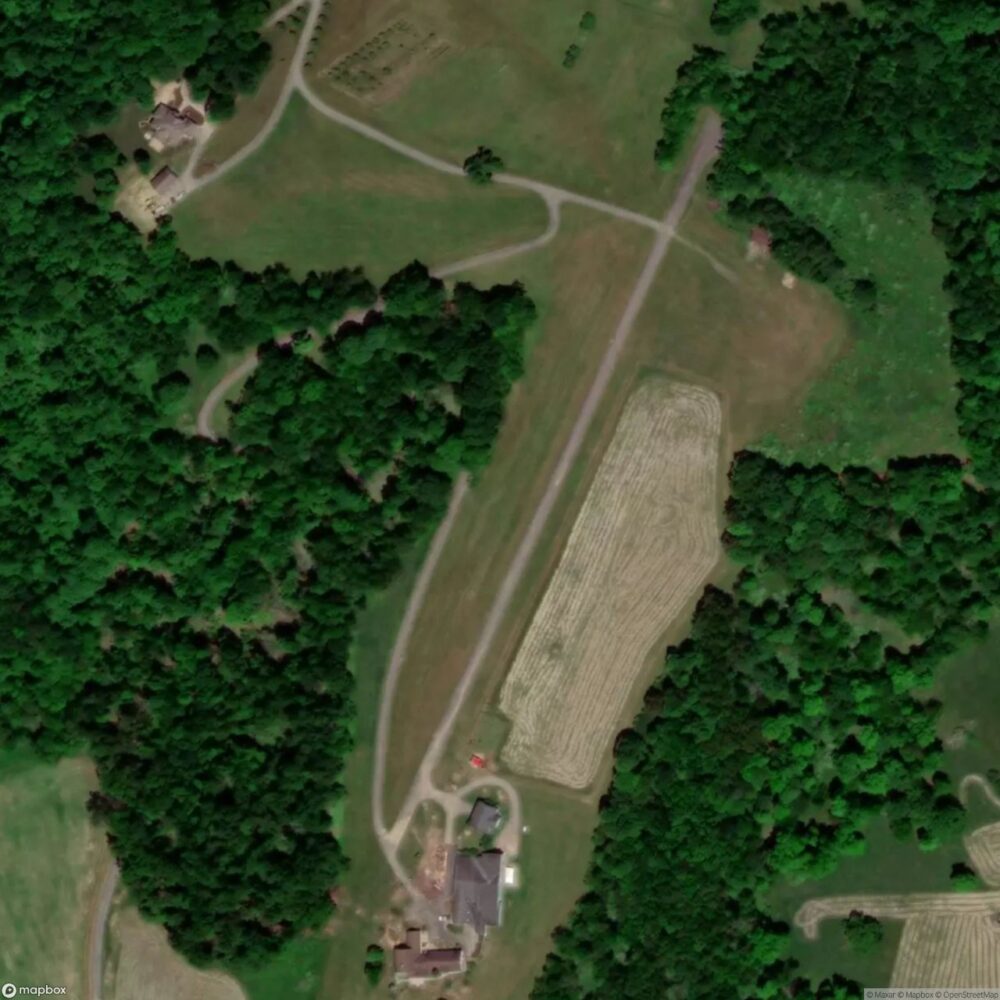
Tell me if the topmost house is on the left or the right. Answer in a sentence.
The topmost house appears in the left half of the scene.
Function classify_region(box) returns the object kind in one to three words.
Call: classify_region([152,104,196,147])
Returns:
house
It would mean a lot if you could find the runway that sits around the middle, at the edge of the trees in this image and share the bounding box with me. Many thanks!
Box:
[385,108,723,846]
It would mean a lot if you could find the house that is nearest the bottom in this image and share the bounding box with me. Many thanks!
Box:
[395,931,461,977]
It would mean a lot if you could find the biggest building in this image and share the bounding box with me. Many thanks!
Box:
[453,854,500,935]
